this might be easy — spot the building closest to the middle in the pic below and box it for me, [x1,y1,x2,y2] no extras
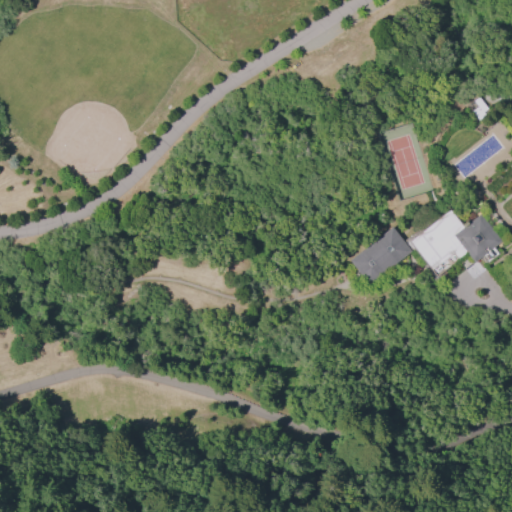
[353,227,412,282]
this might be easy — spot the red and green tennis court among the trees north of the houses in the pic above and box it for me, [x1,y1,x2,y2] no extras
[386,124,432,198]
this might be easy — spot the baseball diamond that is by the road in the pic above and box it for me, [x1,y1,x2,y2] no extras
[0,5,196,184]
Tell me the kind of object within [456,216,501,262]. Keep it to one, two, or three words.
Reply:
house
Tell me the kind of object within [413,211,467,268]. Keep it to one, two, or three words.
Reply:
house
